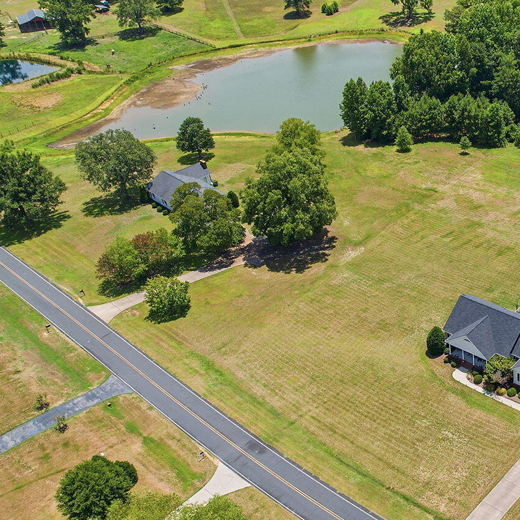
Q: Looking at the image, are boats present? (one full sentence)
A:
No, this view has no boat in it.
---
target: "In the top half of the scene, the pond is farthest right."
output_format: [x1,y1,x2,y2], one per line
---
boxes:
[106,40,413,139]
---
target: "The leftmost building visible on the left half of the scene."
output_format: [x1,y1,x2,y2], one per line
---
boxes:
[16,12,50,32]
